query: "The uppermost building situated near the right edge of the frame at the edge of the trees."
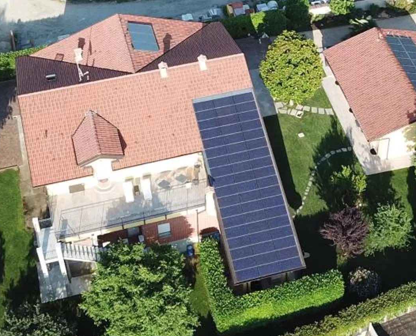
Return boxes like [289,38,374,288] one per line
[320,25,416,160]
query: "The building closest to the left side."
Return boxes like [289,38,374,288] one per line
[16,12,316,300]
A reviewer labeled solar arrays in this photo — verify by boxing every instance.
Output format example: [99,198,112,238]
[387,31,416,89]
[190,88,312,285]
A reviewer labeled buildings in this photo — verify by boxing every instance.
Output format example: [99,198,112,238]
[16,12,316,300]
[320,25,416,160]
[378,312,416,336]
